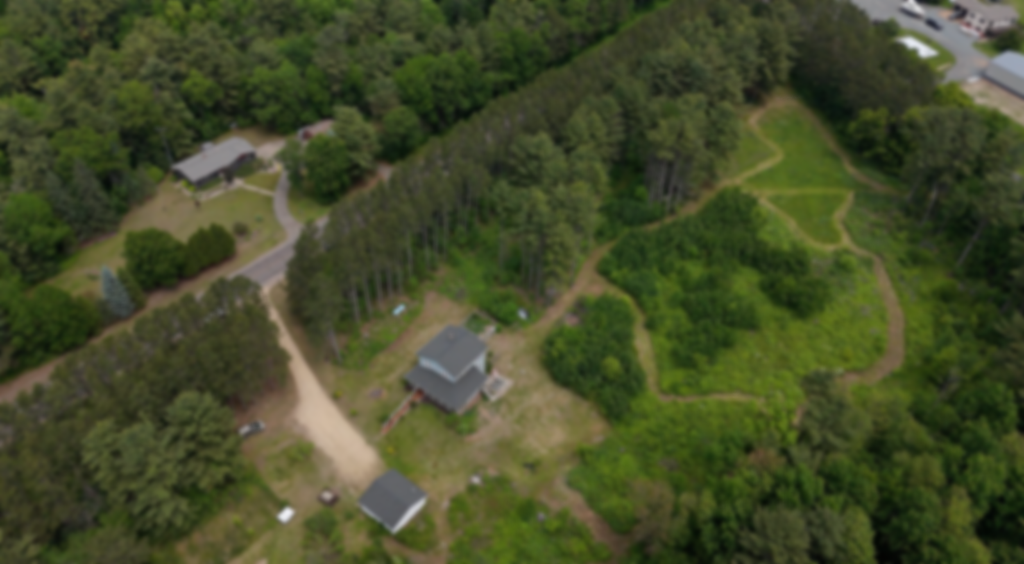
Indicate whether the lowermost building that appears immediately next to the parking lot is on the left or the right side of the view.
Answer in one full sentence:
It is on the right.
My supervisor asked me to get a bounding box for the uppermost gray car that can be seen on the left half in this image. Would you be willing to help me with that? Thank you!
[237,419,264,438]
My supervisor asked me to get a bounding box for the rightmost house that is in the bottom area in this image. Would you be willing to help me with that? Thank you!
[403,324,489,418]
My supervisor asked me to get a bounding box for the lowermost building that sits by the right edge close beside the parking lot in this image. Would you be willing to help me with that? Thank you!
[980,57,1024,107]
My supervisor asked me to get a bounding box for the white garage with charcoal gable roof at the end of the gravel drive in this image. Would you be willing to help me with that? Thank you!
[358,470,428,535]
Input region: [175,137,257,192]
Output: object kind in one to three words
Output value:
house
